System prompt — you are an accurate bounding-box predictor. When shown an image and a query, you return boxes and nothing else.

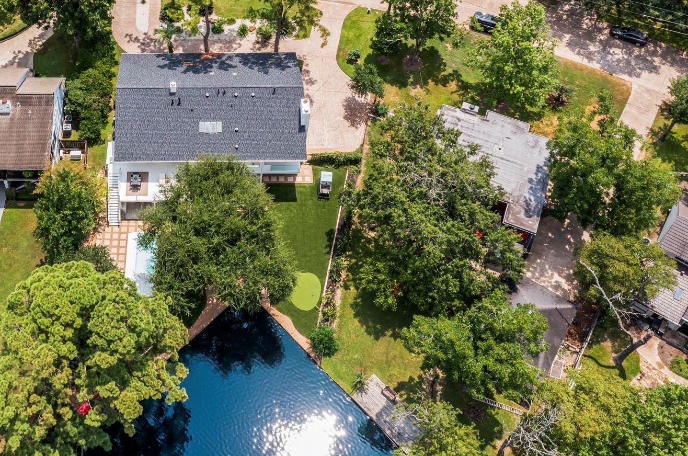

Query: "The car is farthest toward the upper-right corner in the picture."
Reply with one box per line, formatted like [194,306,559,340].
[613,26,650,47]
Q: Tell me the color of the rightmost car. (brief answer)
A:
black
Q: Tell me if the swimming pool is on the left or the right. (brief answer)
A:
left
